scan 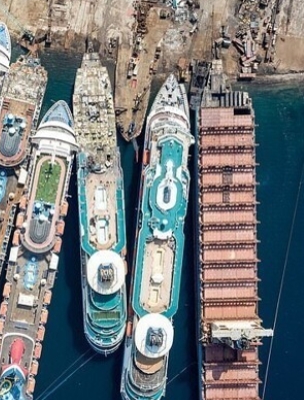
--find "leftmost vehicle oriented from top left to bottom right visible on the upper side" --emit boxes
[23,36,41,58]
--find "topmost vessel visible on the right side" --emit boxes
[188,60,210,108]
